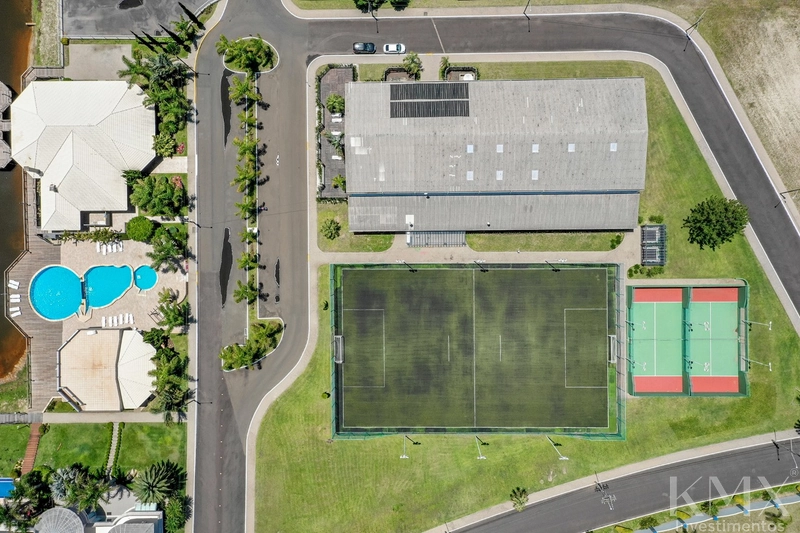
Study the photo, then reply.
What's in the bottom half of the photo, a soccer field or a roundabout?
soccer field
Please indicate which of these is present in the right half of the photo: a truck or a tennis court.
tennis court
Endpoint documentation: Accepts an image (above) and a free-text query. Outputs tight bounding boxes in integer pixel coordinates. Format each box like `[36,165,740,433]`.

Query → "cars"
[383,40,405,52]
[352,40,375,52]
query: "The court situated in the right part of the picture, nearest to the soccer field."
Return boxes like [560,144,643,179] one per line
[627,286,691,395]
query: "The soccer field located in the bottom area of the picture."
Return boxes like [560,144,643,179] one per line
[334,263,619,435]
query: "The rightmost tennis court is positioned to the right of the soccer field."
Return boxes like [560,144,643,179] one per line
[683,286,748,395]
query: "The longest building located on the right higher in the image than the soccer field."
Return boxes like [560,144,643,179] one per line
[345,77,648,232]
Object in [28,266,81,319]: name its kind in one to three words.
swimming pool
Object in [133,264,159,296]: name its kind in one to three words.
swimming pool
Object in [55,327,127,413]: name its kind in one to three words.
building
